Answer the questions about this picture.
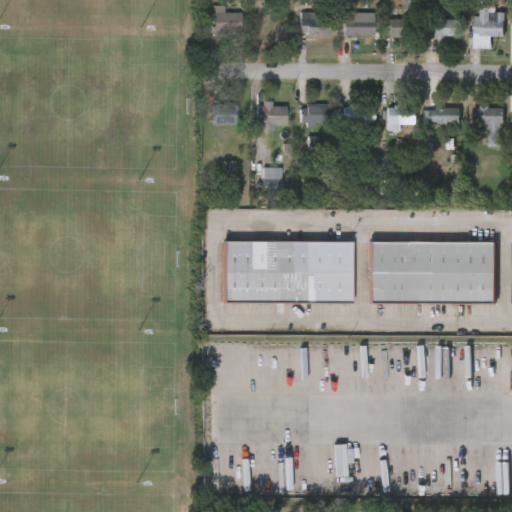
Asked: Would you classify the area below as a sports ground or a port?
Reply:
sports ground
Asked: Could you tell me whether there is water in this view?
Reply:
No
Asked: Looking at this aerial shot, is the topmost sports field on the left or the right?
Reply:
left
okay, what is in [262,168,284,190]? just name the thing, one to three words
building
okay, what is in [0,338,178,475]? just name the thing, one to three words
sports field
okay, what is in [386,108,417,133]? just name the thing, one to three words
house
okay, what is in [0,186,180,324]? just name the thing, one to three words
sports field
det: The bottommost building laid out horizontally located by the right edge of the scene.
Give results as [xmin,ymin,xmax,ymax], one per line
[370,242,496,303]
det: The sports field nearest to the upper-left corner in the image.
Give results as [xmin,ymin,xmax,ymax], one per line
[0,34,181,172]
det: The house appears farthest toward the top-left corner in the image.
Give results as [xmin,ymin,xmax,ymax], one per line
[214,6,244,36]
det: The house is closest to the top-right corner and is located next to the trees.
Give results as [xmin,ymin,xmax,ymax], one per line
[472,7,505,49]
